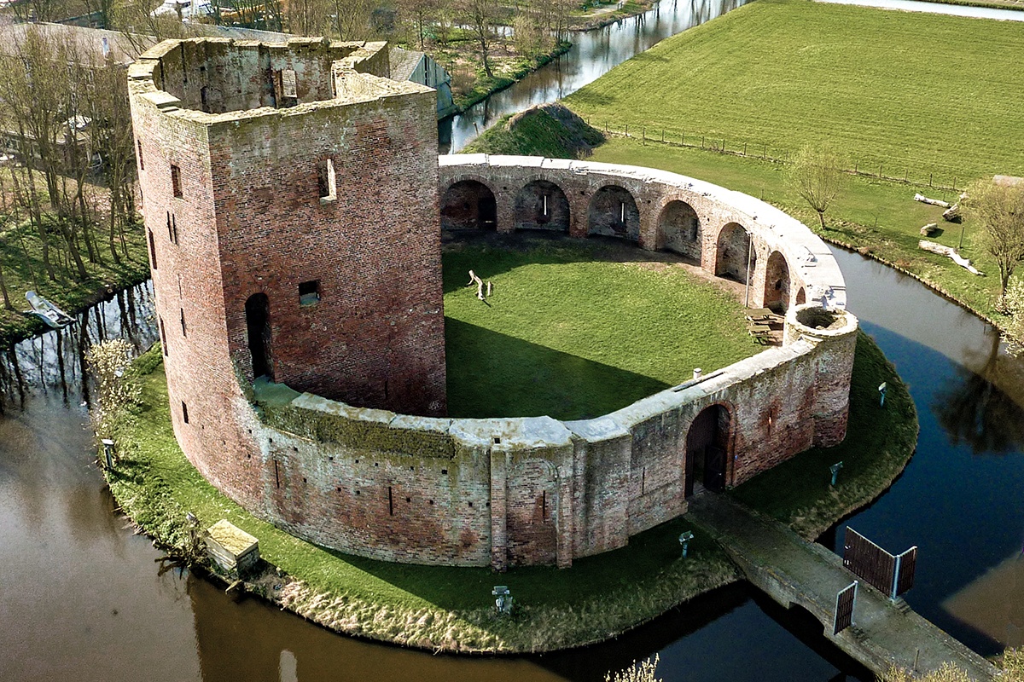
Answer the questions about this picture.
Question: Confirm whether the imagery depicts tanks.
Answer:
No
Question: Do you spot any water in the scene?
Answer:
Yes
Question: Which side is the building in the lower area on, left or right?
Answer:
left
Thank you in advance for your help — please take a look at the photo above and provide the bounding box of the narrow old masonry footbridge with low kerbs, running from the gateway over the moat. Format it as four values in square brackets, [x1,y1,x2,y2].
[684,483,1022,682]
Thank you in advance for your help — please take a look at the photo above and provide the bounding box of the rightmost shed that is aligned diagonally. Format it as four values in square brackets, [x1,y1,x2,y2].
[394,43,452,116]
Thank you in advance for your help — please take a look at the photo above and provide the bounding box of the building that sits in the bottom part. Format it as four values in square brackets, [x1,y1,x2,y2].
[199,508,260,567]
